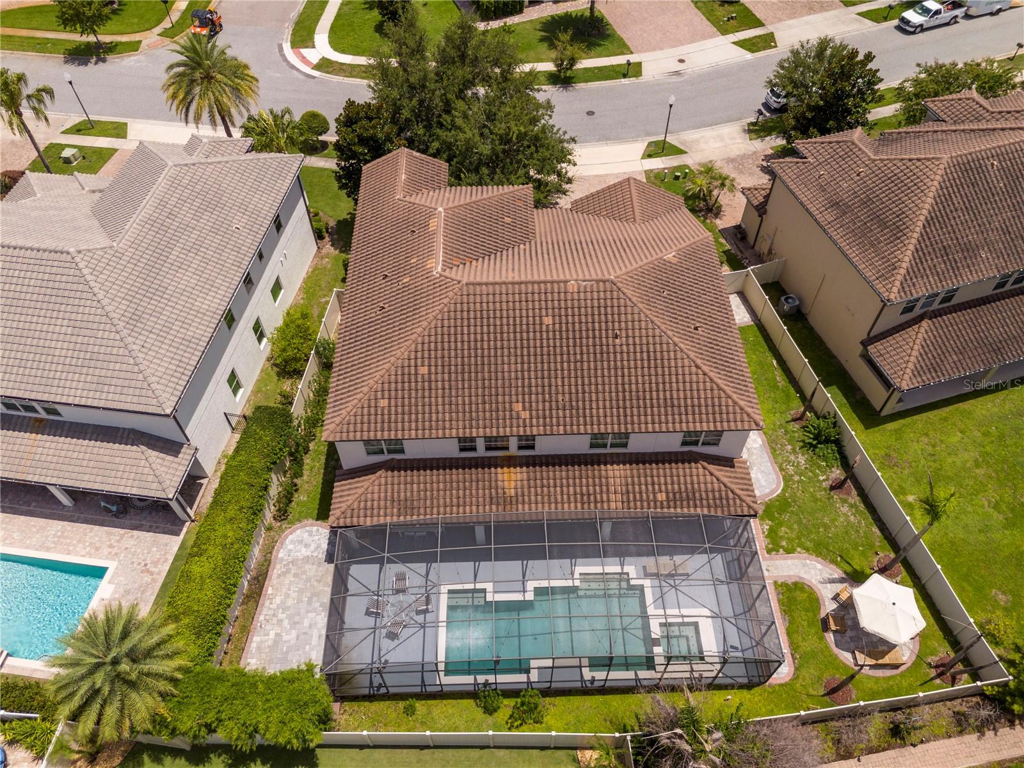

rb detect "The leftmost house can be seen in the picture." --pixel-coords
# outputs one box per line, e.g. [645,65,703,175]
[0,131,310,524]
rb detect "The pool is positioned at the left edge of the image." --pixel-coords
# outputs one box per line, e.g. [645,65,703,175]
[0,544,119,673]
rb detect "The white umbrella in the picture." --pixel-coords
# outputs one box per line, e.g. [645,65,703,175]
[851,574,928,646]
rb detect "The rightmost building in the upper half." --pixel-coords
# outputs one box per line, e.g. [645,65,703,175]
[732,85,1024,419]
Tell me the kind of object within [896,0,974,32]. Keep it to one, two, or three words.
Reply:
truck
